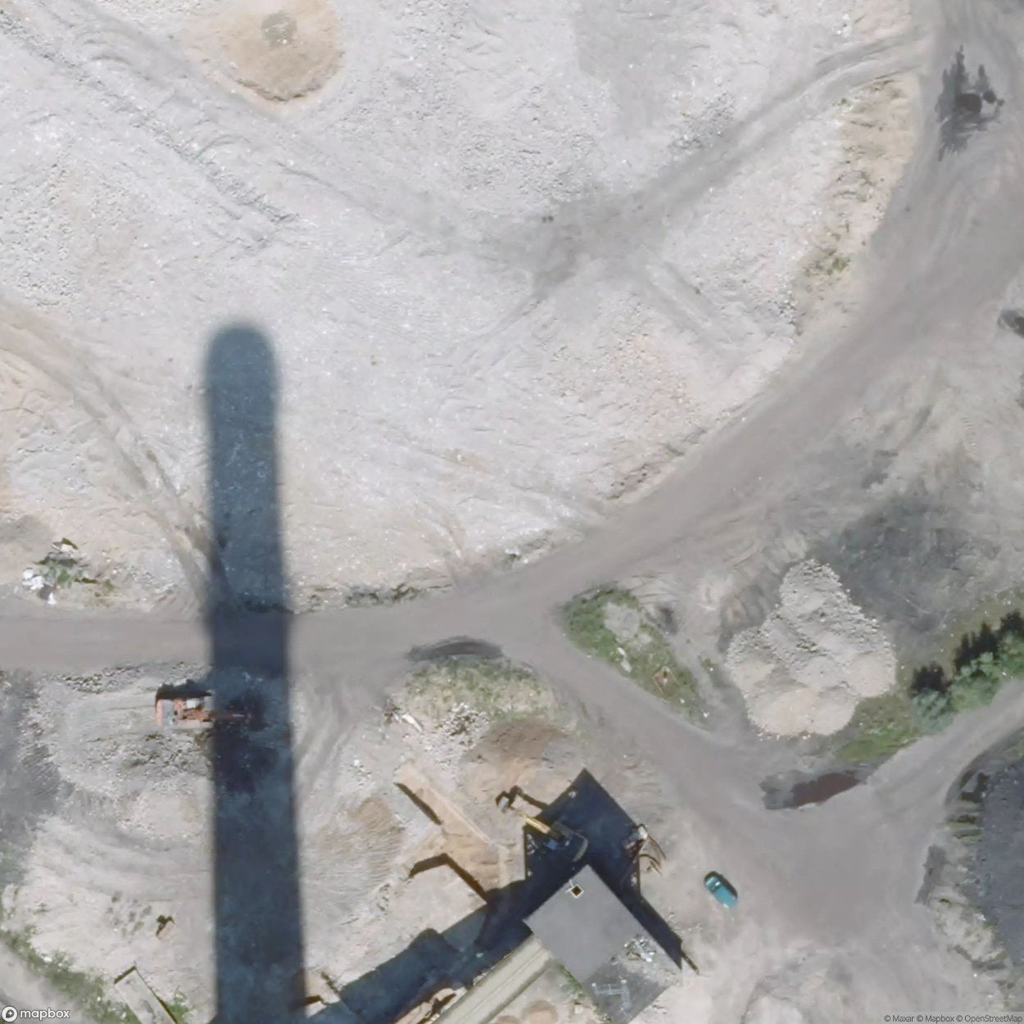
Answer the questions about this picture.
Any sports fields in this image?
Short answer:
No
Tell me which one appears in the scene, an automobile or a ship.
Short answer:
automobile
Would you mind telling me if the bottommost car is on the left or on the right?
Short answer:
right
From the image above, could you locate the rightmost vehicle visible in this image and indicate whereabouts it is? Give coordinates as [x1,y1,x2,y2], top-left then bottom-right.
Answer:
[703,874,736,910]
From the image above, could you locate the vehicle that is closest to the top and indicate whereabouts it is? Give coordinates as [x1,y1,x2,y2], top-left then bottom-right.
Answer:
[156,697,246,727]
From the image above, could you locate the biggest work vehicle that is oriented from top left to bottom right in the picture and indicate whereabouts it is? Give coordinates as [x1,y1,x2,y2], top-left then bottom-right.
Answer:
[498,796,589,863]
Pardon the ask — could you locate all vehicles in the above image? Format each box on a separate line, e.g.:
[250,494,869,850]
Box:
[703,874,736,910]
[498,796,589,863]
[156,697,246,727]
